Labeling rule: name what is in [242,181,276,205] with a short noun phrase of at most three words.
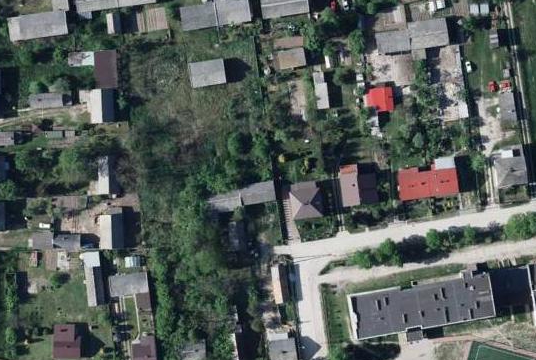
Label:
barn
